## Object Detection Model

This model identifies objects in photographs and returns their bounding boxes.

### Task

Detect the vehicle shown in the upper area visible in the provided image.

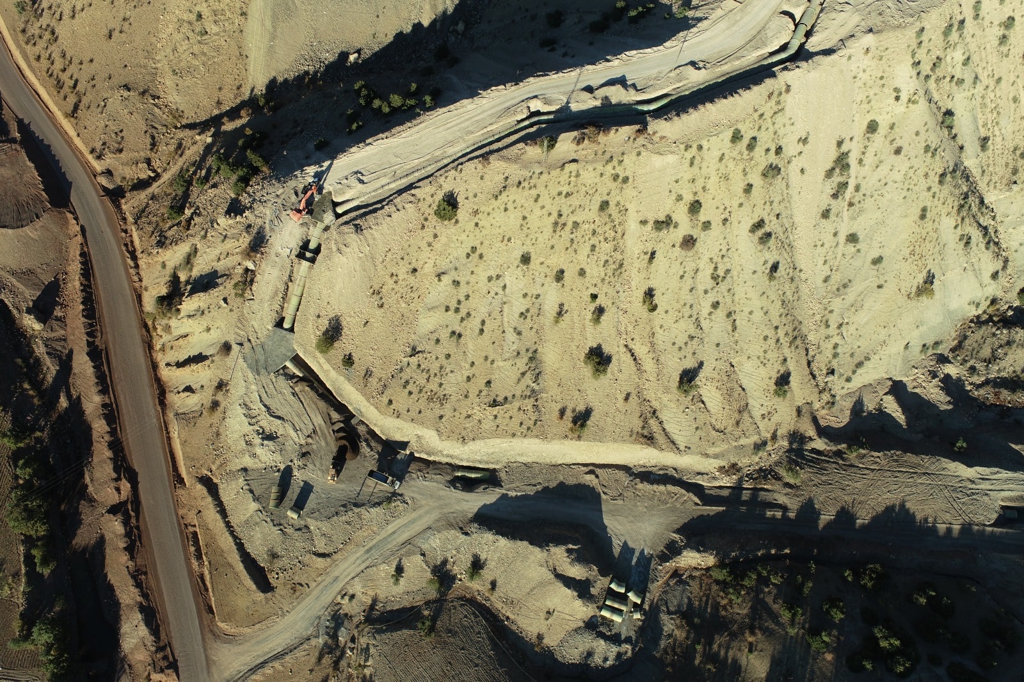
[285,172,322,226]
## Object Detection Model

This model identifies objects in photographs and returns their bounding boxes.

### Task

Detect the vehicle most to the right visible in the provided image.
[363,469,403,493]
